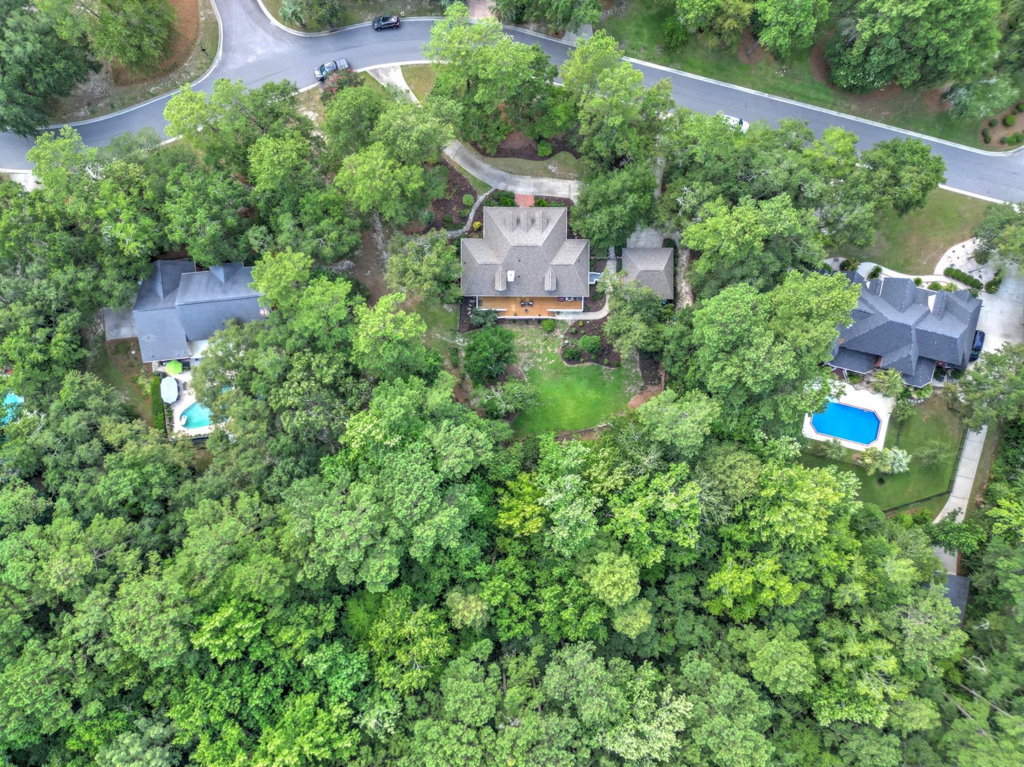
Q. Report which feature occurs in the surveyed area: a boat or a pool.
pool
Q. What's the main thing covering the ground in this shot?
trees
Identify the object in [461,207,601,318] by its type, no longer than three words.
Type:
house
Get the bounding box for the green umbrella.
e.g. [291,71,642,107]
[167,359,184,377]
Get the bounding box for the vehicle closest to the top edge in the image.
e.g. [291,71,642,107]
[373,12,401,30]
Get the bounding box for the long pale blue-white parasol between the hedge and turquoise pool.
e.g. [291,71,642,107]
[162,376,180,404]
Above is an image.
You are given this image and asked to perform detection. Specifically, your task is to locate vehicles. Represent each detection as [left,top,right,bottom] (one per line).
[314,59,348,79]
[726,115,750,131]
[971,332,991,361]
[373,12,401,30]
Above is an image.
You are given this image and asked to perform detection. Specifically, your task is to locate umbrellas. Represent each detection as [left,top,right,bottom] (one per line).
[162,376,180,404]
[167,359,184,377]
